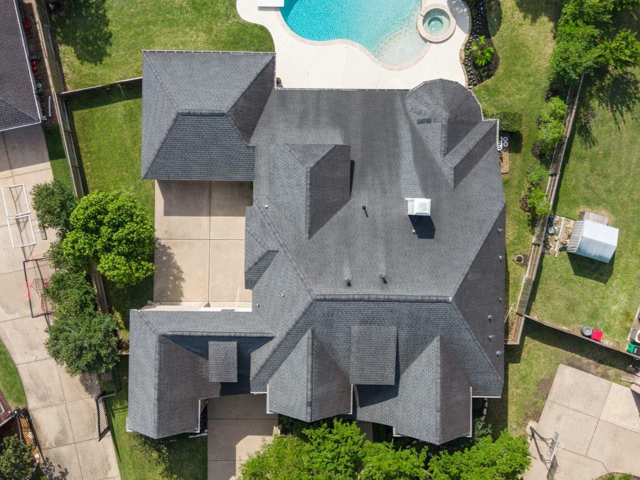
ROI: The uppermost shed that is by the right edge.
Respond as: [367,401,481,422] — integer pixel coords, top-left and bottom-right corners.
[567,224,626,263]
